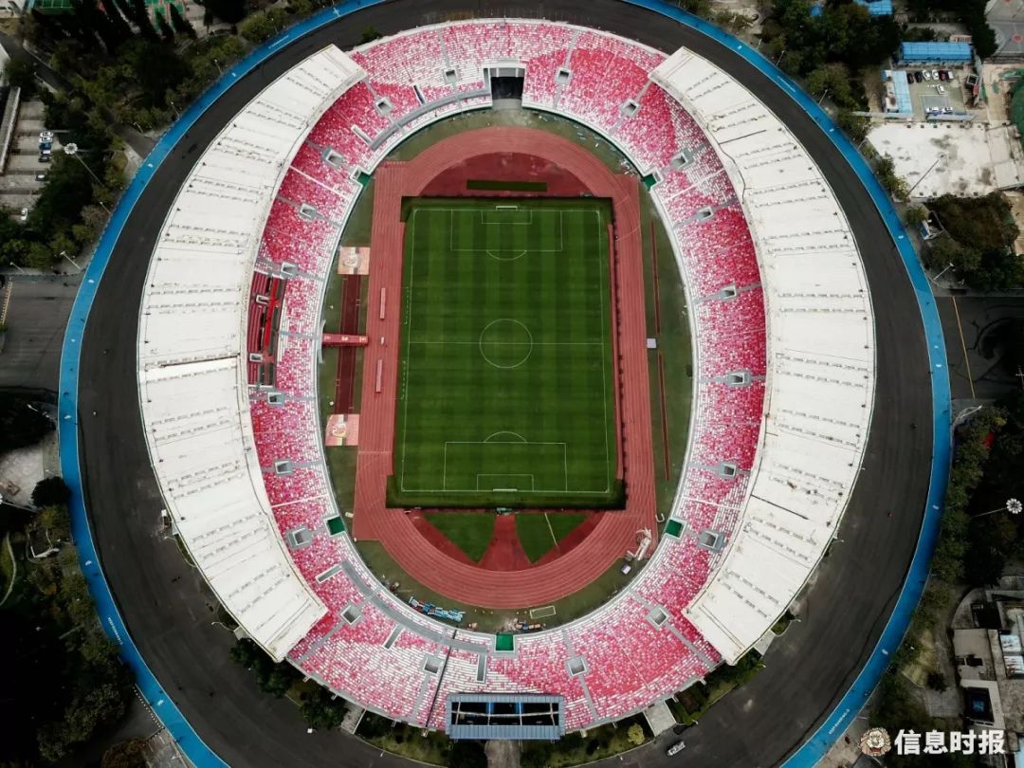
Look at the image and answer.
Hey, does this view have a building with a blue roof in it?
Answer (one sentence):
Yes, you can see a building with a blue roof in this photo.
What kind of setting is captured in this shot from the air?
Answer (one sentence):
The area seen from above is a sports ground.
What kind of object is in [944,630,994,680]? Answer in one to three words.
building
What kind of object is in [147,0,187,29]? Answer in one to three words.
sports court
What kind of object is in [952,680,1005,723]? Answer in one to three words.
building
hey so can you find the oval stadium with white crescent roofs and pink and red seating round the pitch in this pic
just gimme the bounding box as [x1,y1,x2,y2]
[135,19,875,739]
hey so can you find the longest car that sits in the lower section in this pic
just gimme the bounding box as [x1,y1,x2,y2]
[668,741,684,755]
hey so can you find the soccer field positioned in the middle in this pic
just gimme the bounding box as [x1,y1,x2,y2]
[386,198,624,506]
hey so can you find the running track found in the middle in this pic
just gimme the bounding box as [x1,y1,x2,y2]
[354,126,659,607]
